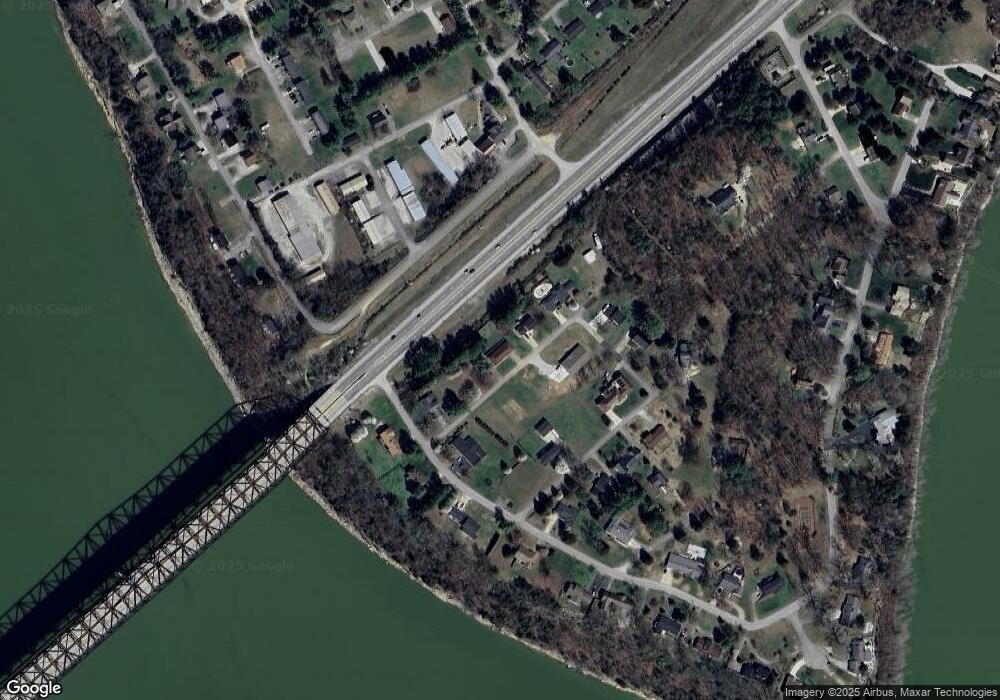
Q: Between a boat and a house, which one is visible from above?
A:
house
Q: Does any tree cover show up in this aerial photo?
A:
Yes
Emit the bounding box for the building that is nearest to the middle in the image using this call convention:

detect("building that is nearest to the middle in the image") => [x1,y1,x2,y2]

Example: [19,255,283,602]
[485,339,512,365]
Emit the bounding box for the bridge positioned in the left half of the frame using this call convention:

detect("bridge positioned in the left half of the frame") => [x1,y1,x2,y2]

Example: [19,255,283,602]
[0,396,333,700]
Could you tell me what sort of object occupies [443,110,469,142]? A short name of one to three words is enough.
building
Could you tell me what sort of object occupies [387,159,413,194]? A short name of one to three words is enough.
building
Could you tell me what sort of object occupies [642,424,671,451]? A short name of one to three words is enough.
house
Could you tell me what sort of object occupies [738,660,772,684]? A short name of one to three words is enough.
house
